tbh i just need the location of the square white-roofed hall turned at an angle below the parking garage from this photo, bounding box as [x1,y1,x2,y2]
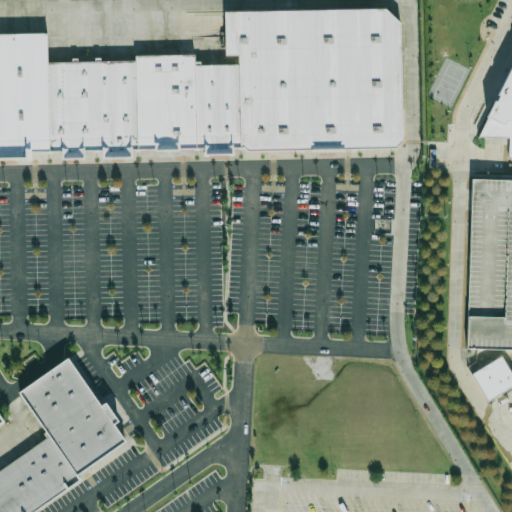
[472,356,512,402]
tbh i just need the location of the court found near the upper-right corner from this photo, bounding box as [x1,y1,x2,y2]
[430,58,470,107]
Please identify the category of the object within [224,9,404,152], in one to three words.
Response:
building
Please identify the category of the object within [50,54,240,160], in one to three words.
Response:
building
